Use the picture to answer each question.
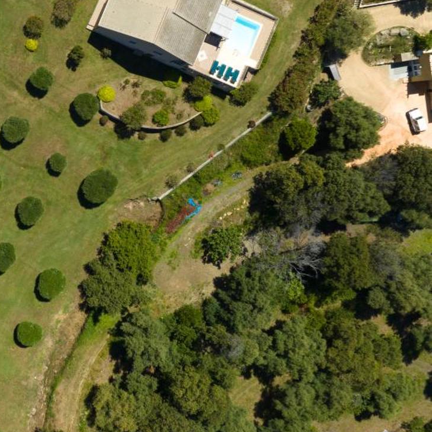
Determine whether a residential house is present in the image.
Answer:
Yes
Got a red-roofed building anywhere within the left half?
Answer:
No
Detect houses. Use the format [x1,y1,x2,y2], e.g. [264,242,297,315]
[396,51,432,96]
[75,0,221,69]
